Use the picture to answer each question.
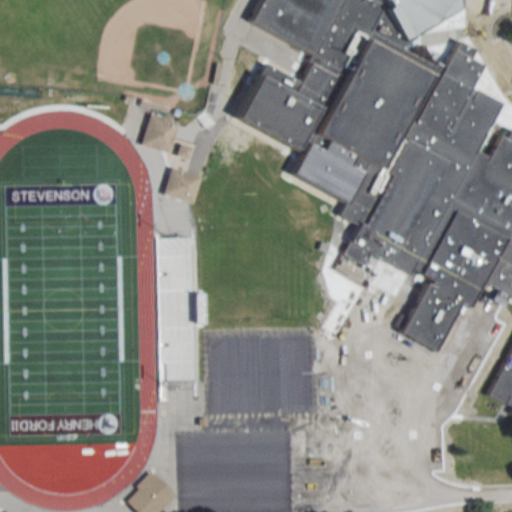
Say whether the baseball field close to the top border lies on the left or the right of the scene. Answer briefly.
left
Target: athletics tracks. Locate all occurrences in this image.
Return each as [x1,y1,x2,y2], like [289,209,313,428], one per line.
[0,112,158,511]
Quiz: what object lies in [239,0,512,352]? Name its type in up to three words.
building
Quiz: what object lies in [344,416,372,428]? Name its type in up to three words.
vehicle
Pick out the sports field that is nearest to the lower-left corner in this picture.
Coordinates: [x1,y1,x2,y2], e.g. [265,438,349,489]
[0,129,140,493]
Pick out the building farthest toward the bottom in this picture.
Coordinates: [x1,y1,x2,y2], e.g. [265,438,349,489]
[128,474,176,512]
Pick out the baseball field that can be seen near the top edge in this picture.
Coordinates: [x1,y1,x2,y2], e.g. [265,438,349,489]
[98,0,222,124]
